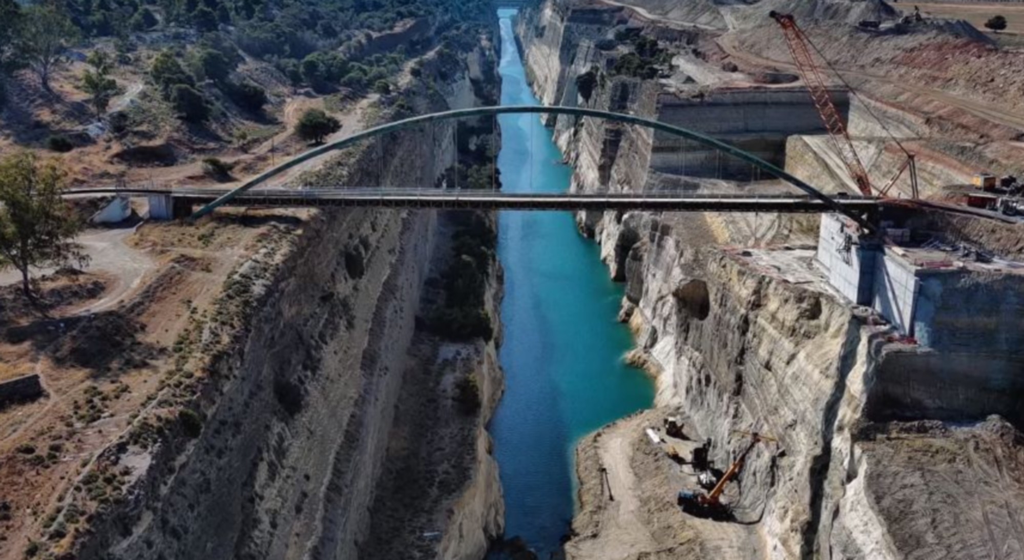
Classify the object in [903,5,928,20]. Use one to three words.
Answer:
work vehicle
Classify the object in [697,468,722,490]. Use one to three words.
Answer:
truck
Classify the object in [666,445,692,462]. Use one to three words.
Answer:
work vehicle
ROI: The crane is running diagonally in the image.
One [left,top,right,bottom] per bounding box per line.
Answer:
[769,10,919,187]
